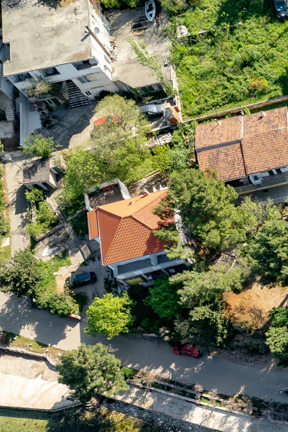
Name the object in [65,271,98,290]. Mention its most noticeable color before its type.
black car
